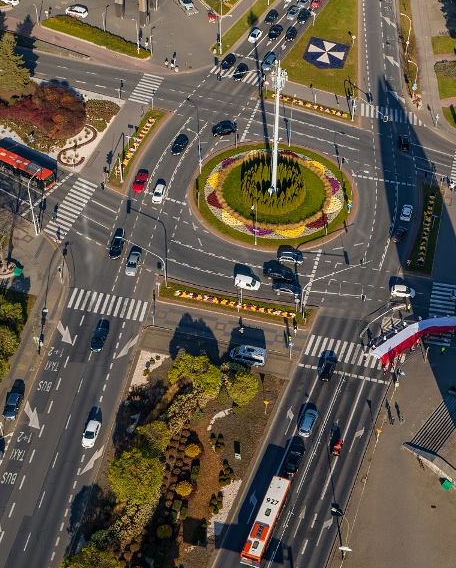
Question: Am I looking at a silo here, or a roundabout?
roundabout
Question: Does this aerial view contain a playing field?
No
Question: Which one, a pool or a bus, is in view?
bus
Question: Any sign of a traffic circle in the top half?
Yes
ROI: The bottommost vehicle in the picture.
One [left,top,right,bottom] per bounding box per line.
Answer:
[244,477,299,568]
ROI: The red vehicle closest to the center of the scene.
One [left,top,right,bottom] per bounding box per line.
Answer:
[133,171,148,193]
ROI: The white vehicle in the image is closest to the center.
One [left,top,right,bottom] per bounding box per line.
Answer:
[230,271,263,292]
